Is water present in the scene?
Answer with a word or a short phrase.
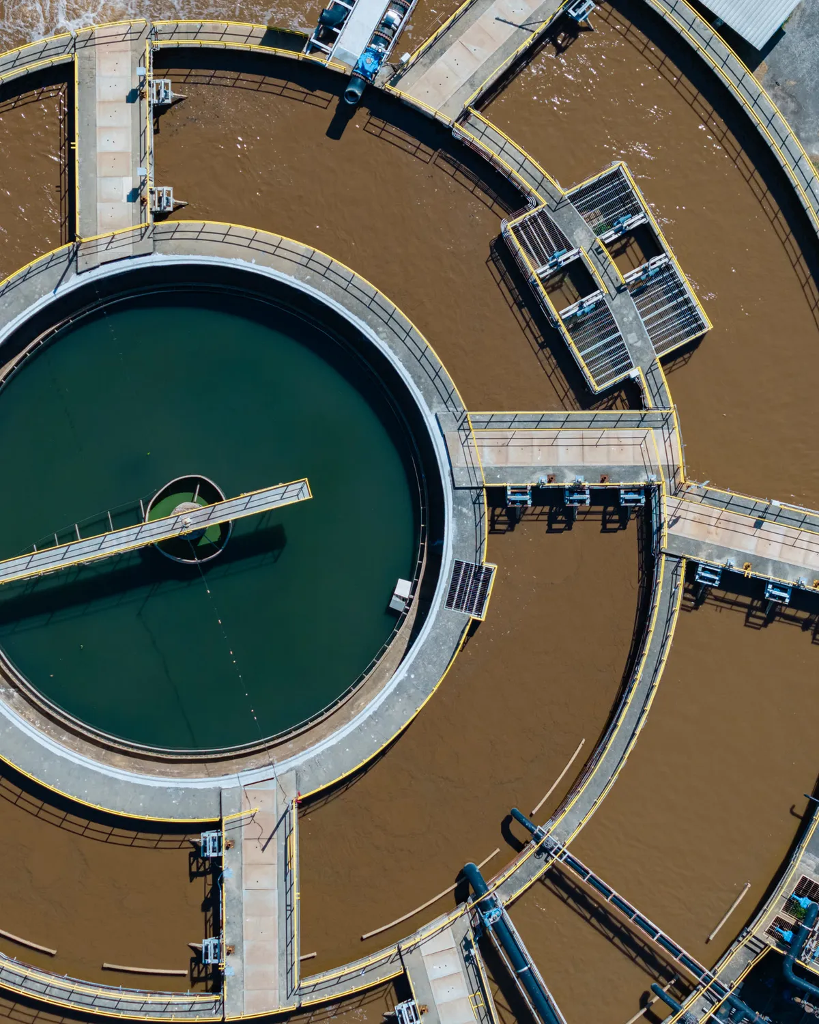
Yes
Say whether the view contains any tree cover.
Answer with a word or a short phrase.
No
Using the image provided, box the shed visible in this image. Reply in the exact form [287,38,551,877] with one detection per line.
[686,0,800,53]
